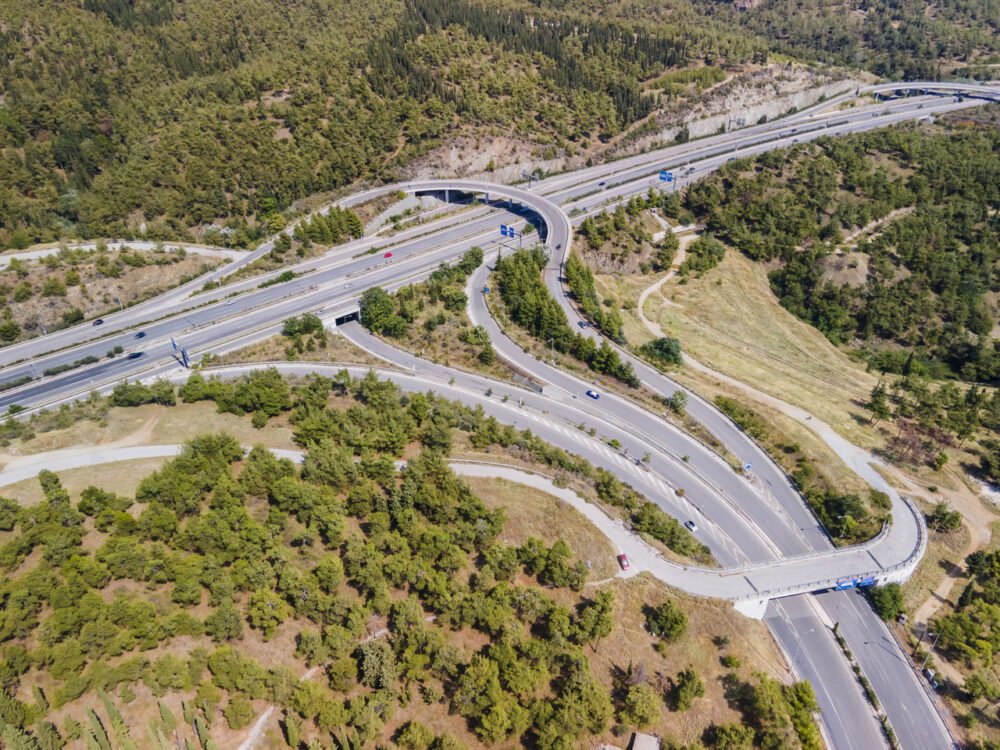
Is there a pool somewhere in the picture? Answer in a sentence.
No, I find no pool anywhere in the image.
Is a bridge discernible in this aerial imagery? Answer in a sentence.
Yes, looking at the shot, I can spot a bridge.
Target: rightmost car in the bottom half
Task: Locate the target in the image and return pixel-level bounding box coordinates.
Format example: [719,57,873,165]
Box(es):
[682,519,699,534]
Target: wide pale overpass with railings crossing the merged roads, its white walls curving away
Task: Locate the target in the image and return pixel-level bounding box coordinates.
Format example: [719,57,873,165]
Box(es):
[723,461,922,619]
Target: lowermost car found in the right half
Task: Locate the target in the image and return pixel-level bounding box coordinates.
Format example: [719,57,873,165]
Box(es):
[615,554,629,572]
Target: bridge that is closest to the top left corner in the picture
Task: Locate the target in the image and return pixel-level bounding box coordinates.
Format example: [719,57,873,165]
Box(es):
[413,178,571,259]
